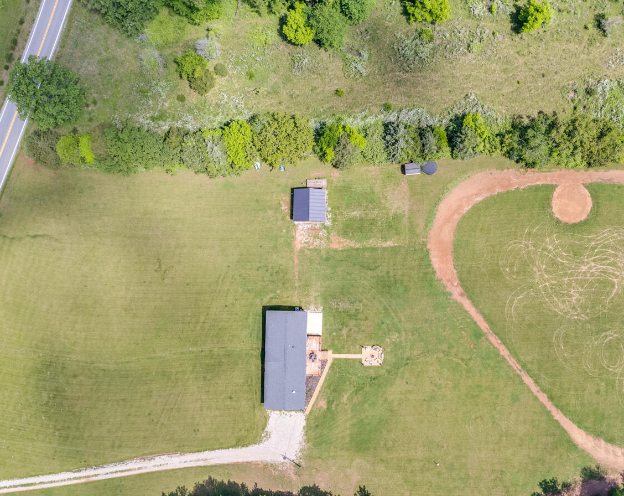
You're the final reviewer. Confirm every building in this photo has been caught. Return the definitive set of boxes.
[293,188,326,223]
[405,163,420,176]
[263,310,308,412]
